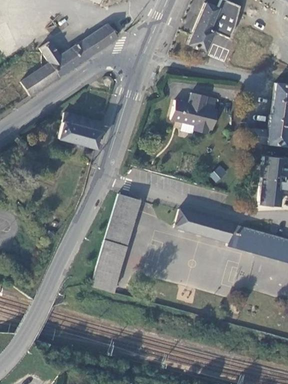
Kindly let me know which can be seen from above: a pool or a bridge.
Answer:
bridge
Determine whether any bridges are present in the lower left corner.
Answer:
Yes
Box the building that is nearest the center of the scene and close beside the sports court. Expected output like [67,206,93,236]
[104,193,140,244]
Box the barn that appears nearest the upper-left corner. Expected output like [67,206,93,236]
[37,42,61,68]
